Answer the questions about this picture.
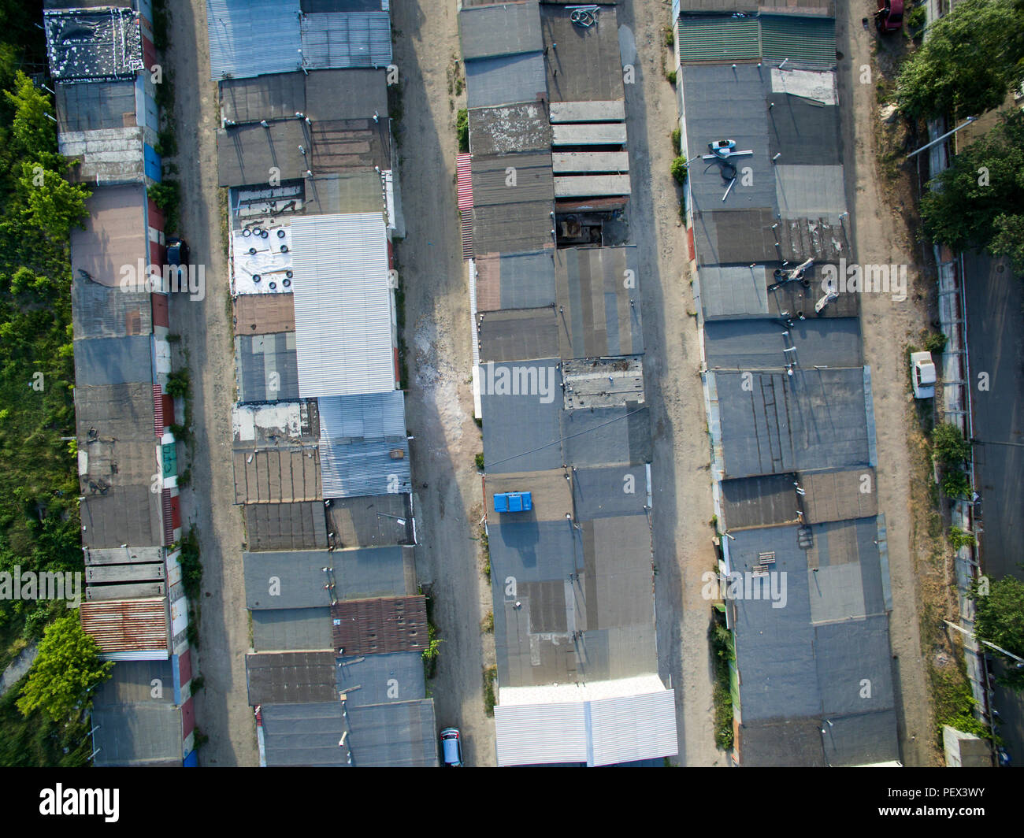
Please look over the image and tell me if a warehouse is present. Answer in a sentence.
No, the picture doesn't show any warehouse.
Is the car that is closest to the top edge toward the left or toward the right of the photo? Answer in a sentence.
The car that is closest to the top edge is on the right side of the image.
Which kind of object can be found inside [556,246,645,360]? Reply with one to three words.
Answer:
building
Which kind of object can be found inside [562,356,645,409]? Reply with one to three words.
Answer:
building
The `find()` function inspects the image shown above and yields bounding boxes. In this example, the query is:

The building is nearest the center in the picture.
[472,358,567,473]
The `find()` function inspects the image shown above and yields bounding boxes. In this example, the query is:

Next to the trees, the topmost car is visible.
[870,0,906,32]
